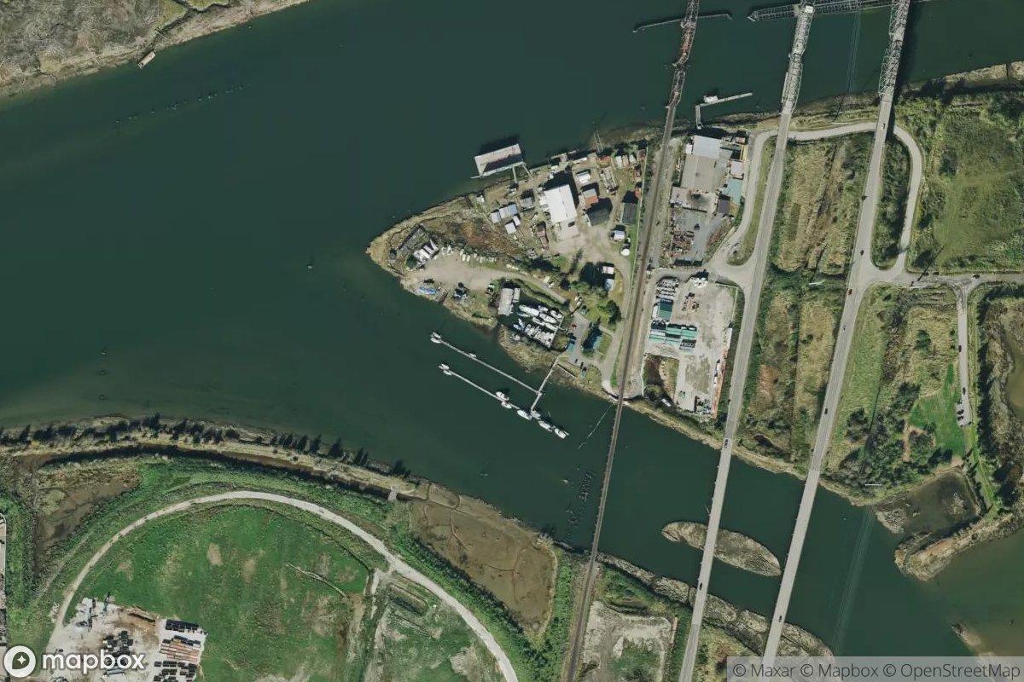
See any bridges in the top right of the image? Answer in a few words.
Yes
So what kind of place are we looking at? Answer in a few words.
port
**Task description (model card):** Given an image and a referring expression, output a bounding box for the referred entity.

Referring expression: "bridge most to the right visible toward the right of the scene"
[874,0,915,139]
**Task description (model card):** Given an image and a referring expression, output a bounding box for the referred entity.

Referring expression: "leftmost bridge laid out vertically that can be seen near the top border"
[664,0,694,125]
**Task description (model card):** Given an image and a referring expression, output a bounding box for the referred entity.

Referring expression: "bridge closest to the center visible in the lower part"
[587,398,624,559]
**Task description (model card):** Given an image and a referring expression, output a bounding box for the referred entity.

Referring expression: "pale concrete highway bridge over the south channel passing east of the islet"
[758,470,821,682]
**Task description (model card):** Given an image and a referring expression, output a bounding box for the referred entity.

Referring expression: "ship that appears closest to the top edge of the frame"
[138,50,156,67]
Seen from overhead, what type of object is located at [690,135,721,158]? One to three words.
building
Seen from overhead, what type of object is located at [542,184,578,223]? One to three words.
shed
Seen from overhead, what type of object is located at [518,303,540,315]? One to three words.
boat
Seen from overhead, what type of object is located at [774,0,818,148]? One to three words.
bridge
